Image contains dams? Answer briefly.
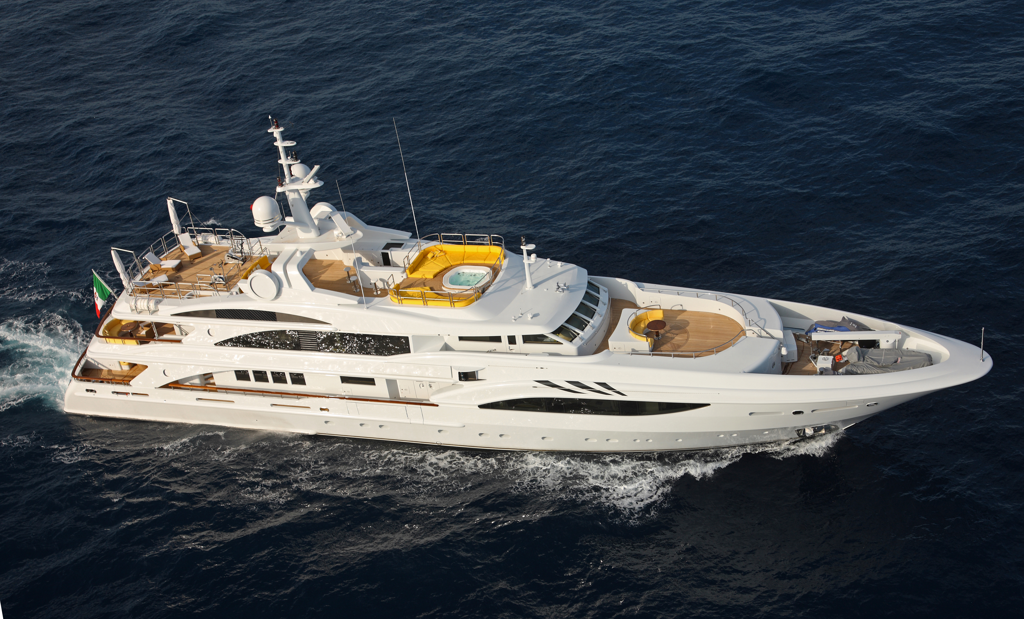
No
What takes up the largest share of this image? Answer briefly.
water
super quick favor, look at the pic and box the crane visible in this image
[807,331,902,356]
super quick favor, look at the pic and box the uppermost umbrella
[168,196,212,245]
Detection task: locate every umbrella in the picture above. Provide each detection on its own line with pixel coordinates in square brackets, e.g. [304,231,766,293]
[168,196,212,245]
[111,247,151,296]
